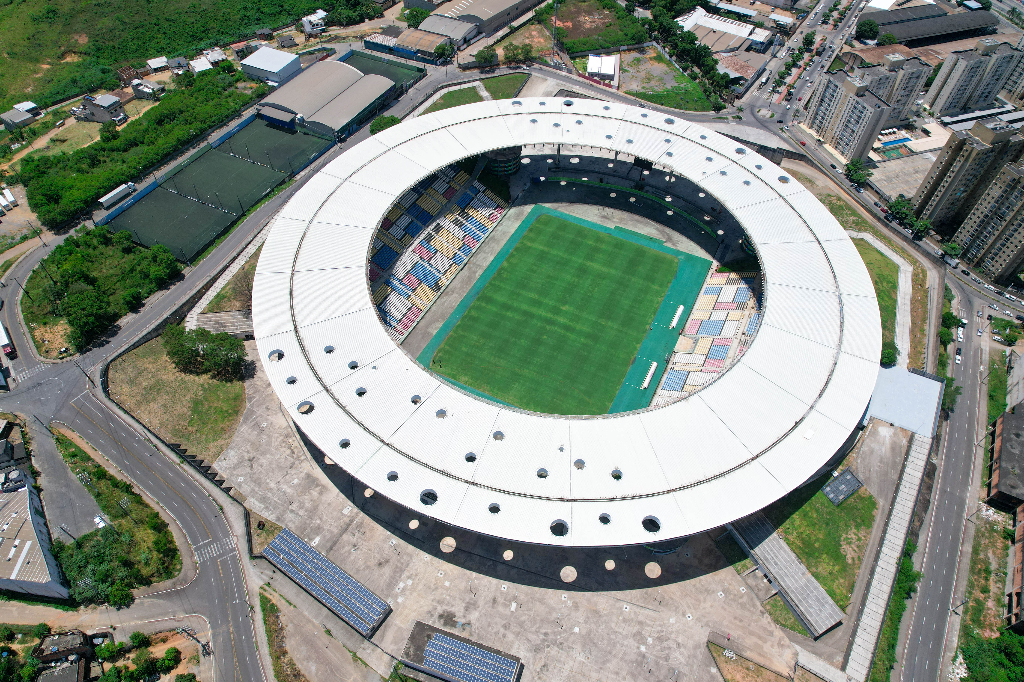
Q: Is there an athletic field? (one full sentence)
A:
Yes, there is an athletic field in the image.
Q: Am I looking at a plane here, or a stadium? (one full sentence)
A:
Visible in the photo is a stadium.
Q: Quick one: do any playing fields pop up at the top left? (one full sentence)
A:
Yes, at the top left there is a playing field.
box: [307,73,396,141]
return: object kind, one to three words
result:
building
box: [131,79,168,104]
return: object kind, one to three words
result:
house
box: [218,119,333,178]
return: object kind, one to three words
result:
sports field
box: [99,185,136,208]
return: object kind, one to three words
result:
truck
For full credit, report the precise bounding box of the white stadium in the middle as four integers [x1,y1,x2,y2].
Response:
[251,97,886,561]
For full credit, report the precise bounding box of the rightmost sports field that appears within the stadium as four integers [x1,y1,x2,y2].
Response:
[430,214,679,415]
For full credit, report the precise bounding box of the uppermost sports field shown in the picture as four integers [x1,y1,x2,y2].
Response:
[339,55,419,87]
